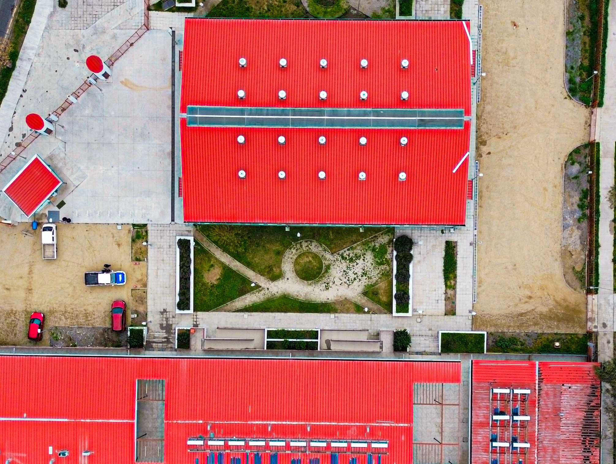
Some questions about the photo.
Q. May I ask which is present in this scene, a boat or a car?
car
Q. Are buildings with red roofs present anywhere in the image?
Yes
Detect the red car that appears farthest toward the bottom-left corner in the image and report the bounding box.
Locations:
[28,312,46,342]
